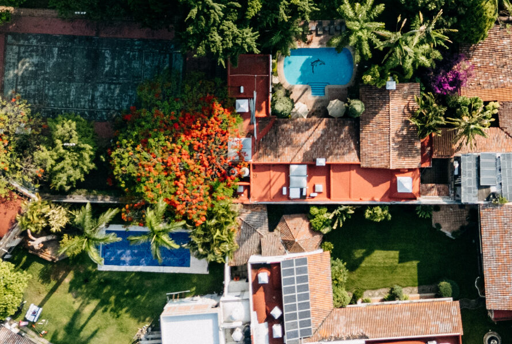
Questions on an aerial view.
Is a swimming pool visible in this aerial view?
Yes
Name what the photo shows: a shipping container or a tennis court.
tennis court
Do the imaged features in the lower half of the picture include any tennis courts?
No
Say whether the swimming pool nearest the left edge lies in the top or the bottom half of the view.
bottom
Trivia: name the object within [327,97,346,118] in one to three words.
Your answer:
umbrella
